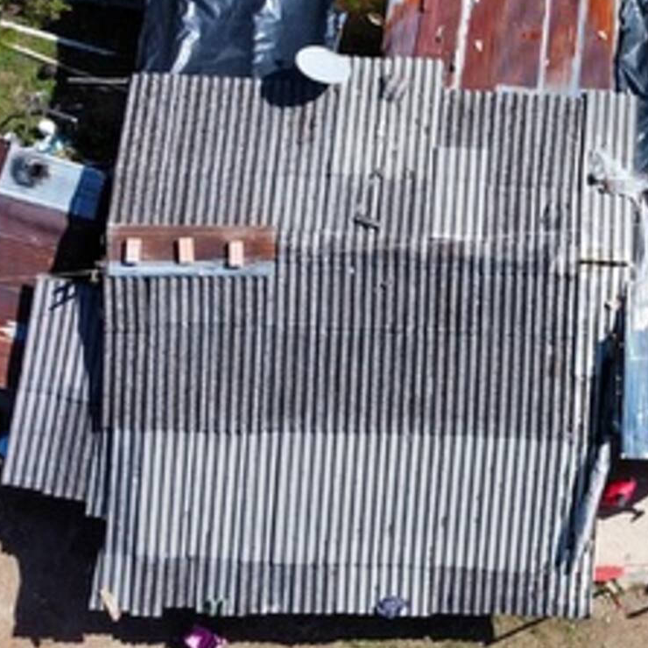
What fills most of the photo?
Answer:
buildings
